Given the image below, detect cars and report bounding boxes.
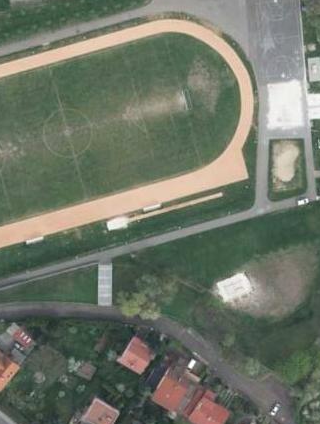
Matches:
[272,404,280,416]
[297,199,309,205]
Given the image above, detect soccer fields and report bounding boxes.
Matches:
[0,33,241,226]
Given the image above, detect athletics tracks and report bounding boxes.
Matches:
[0,19,254,250]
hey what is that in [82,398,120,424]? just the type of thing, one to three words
house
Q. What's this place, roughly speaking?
sports ground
